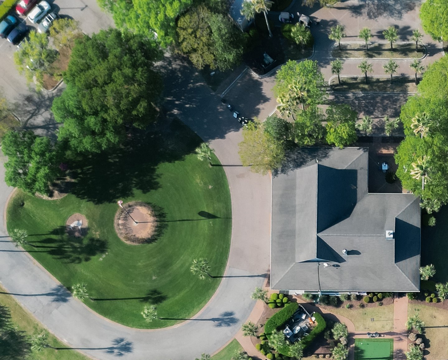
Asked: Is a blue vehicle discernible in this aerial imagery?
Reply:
Yes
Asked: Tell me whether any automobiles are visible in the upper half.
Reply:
Yes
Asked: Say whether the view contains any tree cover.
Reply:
Yes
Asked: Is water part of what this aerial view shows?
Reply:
No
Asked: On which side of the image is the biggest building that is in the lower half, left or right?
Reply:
right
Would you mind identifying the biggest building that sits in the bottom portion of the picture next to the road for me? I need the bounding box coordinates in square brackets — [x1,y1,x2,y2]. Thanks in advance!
[271,147,421,300]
